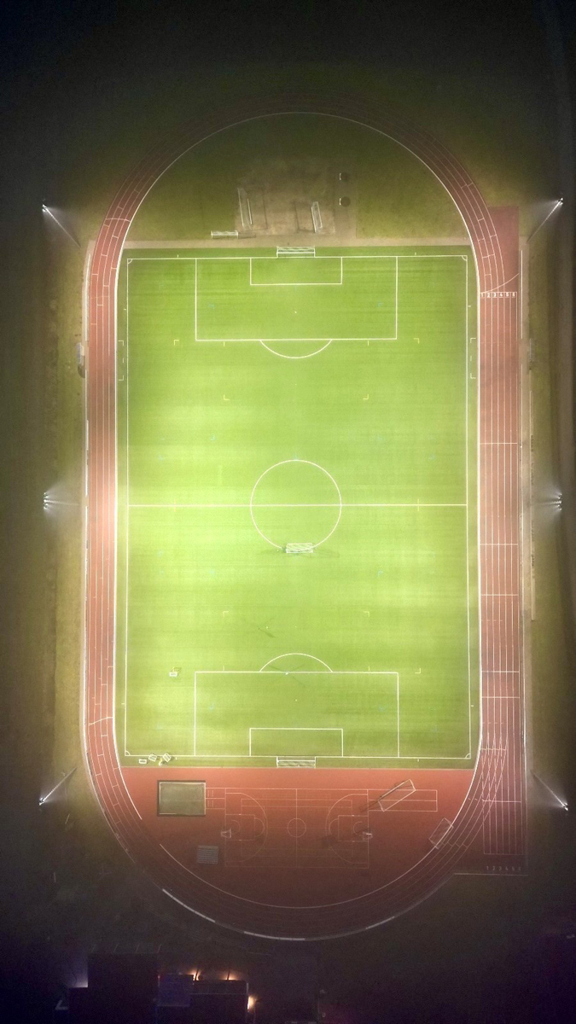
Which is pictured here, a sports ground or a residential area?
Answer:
sports ground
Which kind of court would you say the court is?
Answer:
basketball court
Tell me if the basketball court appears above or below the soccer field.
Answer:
below it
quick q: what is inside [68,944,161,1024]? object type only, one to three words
building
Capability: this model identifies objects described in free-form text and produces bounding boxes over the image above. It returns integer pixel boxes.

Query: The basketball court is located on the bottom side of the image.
[225,788,368,868]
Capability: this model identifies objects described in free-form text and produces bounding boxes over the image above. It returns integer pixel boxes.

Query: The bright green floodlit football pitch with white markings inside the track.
[115,245,481,769]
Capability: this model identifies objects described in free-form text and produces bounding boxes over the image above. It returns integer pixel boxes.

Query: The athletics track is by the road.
[87,87,526,934]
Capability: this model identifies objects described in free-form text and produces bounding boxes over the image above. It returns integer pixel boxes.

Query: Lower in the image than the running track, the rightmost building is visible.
[189,971,249,1024]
